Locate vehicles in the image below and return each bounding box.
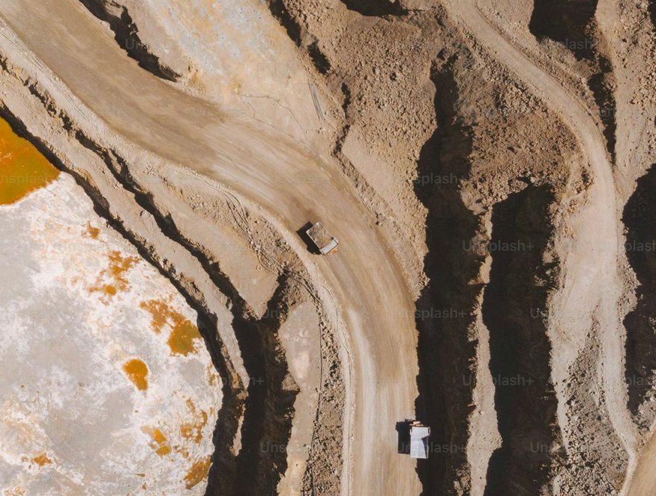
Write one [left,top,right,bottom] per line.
[307,221,339,256]
[404,421,426,456]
